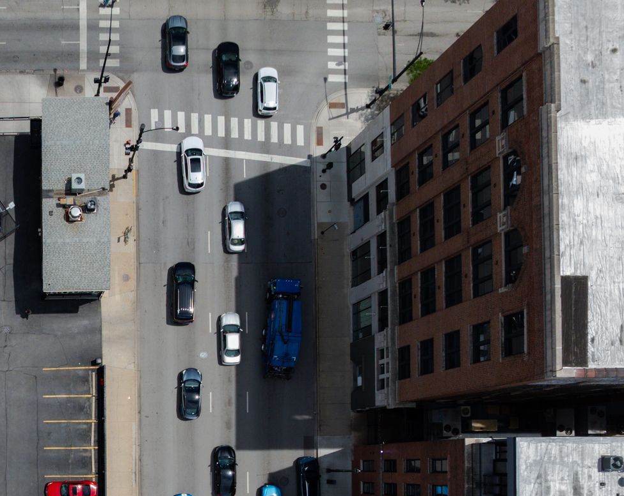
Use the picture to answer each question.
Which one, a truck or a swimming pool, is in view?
truck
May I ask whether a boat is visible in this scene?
No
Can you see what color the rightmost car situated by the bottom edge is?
black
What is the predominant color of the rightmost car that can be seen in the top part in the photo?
white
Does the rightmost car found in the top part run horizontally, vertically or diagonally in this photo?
vertically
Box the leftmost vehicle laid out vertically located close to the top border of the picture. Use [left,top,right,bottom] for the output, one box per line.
[163,17,190,72]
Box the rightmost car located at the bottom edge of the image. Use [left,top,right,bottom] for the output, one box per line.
[294,456,323,496]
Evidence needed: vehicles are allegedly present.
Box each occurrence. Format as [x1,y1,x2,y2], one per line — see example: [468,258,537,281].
[214,43,241,98]
[163,17,190,72]
[211,444,238,496]
[170,265,198,322]
[222,204,247,254]
[180,138,206,193]
[216,313,242,365]
[253,68,280,119]
[258,484,281,496]
[294,456,323,496]
[265,272,306,379]
[178,369,203,421]
[44,480,97,496]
